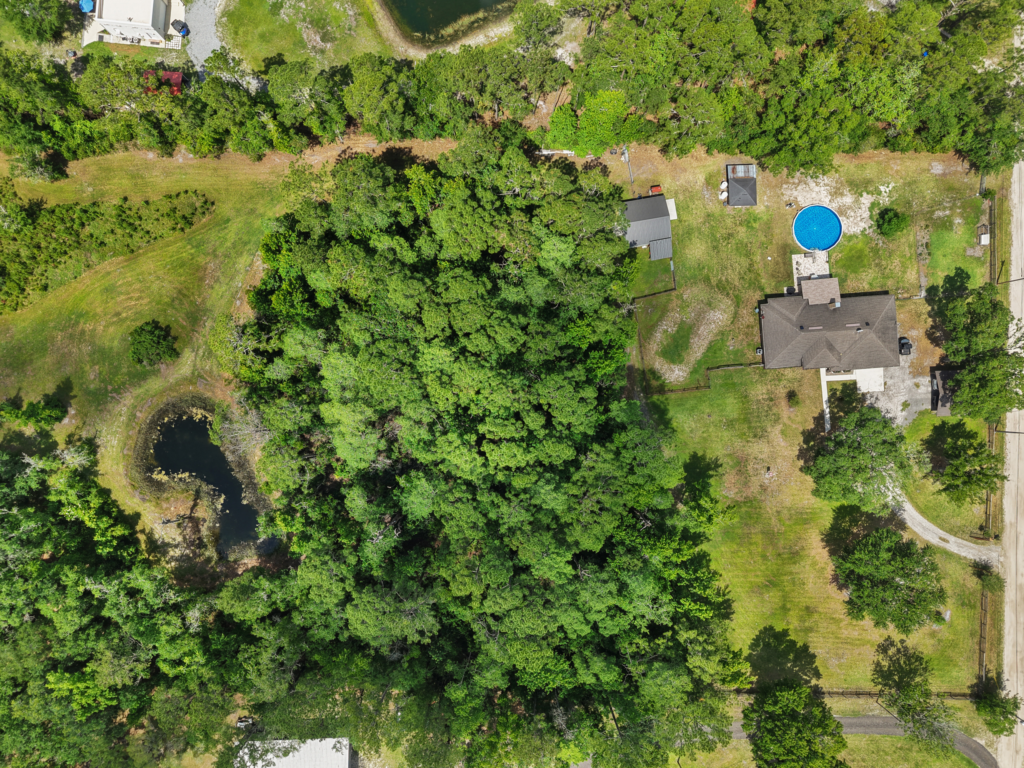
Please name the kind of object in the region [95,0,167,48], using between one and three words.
house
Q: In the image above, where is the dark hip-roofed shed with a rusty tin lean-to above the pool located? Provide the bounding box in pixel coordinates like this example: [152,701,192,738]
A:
[725,165,757,208]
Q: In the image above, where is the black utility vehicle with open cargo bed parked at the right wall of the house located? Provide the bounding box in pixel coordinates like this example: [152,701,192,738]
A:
[898,336,915,357]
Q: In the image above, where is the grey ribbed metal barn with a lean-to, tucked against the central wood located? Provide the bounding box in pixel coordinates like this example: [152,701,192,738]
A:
[605,195,673,261]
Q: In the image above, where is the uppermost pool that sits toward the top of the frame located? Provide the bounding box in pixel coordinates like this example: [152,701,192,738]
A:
[790,203,843,255]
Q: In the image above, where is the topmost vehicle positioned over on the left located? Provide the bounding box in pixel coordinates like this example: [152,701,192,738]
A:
[169,17,193,41]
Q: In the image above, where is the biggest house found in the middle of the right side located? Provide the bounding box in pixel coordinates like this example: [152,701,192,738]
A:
[759,278,900,371]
